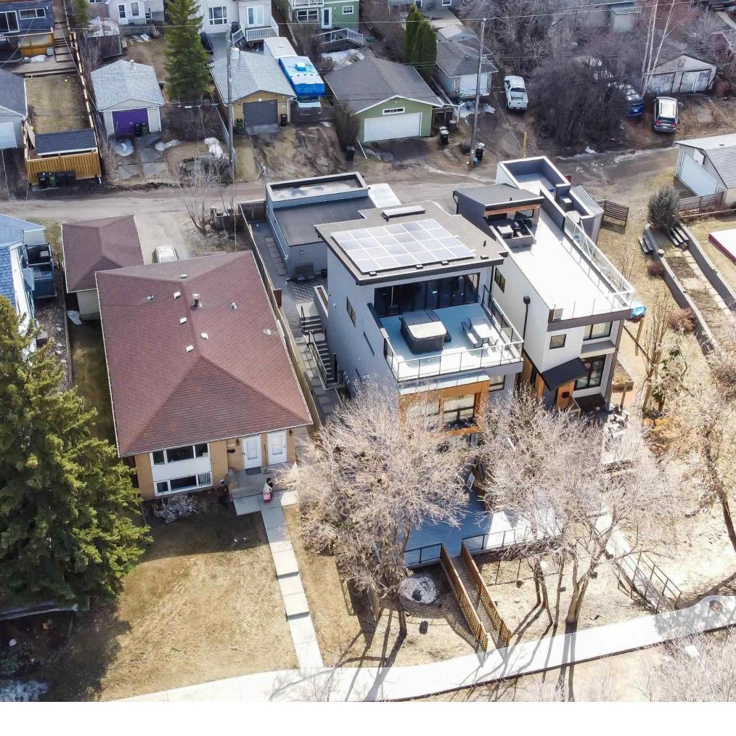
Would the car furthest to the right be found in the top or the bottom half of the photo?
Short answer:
top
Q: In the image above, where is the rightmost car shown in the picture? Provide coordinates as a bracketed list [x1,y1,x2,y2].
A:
[652,98,682,129]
